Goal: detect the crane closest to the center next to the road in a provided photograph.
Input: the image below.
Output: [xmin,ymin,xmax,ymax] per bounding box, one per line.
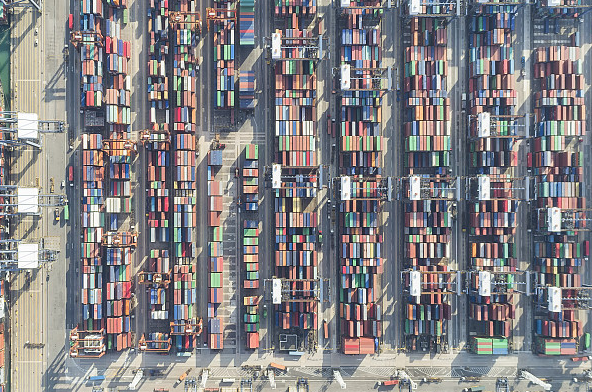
[265,163,331,193]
